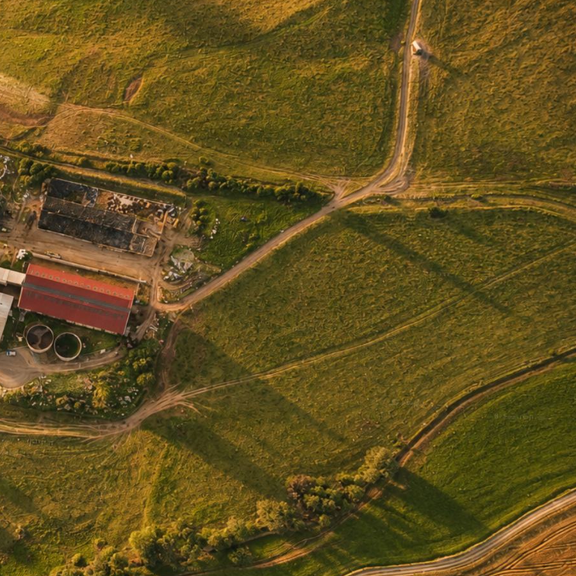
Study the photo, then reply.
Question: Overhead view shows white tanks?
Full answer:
No, no white tank can be seen from above.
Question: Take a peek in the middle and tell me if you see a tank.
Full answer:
No, no tank is visible in the middle.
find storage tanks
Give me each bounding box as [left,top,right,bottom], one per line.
[25,324,54,352]
[54,333,82,361]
